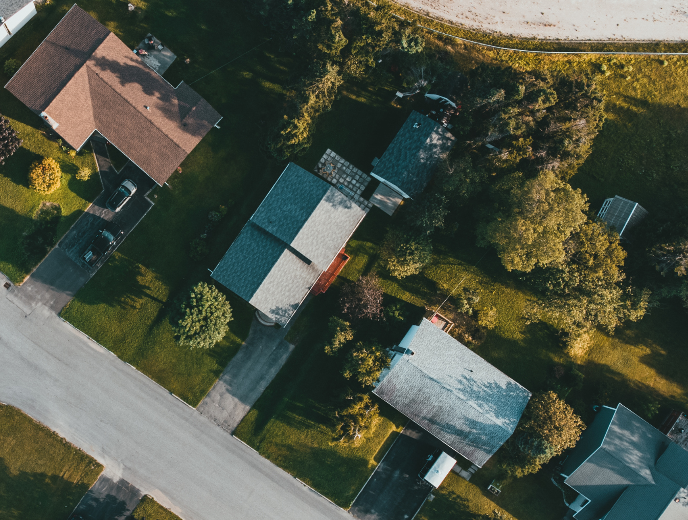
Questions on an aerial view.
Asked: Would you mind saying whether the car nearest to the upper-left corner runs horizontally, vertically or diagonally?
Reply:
diagonally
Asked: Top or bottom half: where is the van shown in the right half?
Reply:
bottom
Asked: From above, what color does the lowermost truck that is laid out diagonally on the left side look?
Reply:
black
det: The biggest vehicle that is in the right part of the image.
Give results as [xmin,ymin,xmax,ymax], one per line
[421,443,459,492]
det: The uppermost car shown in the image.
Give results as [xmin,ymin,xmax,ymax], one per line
[104,176,138,215]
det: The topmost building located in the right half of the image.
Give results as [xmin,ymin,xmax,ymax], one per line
[369,110,458,201]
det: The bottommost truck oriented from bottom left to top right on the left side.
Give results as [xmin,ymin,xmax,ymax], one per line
[78,220,123,270]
